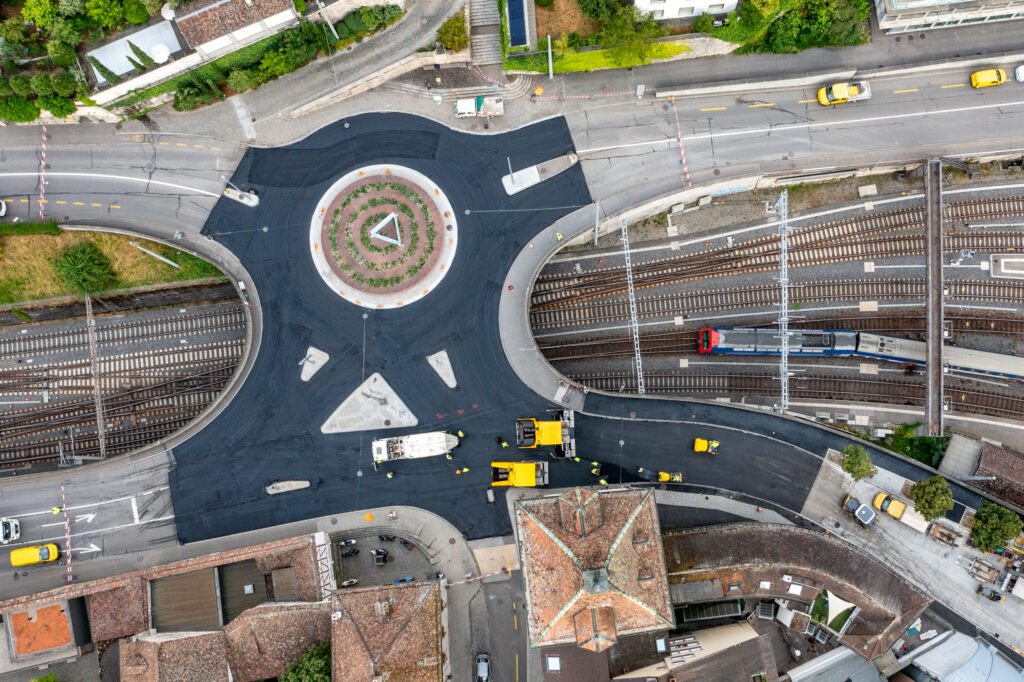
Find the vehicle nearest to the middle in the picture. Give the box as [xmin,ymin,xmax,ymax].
[370,432,461,469]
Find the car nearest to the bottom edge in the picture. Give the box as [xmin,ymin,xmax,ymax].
[472,648,494,682]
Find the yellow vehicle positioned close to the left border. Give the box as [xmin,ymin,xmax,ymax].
[10,541,66,566]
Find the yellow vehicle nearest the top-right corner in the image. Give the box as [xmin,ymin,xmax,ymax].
[963,68,1004,94]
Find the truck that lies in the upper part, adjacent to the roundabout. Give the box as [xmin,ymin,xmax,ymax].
[456,99,507,123]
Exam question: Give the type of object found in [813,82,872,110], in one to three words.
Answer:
truck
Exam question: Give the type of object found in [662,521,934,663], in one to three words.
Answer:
building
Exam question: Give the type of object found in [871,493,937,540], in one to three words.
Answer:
truck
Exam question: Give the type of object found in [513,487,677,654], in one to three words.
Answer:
house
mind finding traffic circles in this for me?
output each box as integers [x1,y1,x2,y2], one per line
[266,119,500,353]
